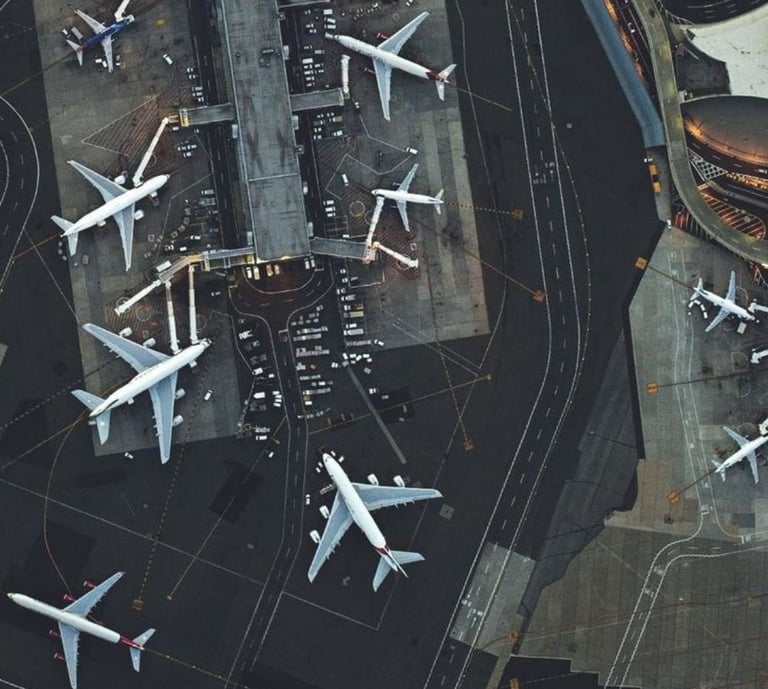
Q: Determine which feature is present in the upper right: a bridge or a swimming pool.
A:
bridge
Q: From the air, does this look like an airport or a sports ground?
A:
airport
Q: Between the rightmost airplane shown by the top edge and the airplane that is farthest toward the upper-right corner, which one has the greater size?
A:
the rightmost airplane shown by the top edge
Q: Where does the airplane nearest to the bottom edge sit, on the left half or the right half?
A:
left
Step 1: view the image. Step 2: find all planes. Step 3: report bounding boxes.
[72,325,208,467]
[371,163,446,232]
[689,268,754,331]
[337,9,455,122]
[308,454,451,589]
[8,573,149,689]
[710,425,768,483]
[50,161,170,271]
[72,7,134,70]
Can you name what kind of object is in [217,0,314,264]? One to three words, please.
building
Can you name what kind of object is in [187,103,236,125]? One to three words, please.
bridge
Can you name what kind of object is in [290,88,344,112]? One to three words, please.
bridge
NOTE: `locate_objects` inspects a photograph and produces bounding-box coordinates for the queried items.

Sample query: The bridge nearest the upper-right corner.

[631,0,768,271]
